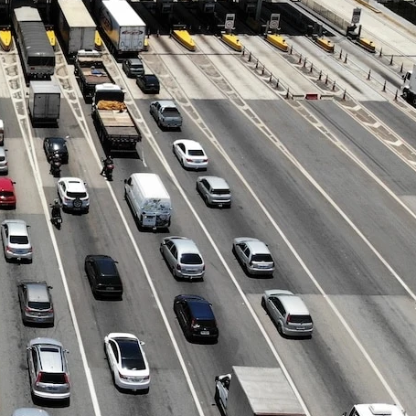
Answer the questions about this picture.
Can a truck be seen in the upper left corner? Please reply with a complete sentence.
Yes, I can see a truck in the upper left corner.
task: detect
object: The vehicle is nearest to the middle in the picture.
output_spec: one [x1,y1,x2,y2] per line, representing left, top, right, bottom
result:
[192,178,232,208]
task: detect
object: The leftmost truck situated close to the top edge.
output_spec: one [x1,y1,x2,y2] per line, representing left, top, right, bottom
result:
[8,0,55,81]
